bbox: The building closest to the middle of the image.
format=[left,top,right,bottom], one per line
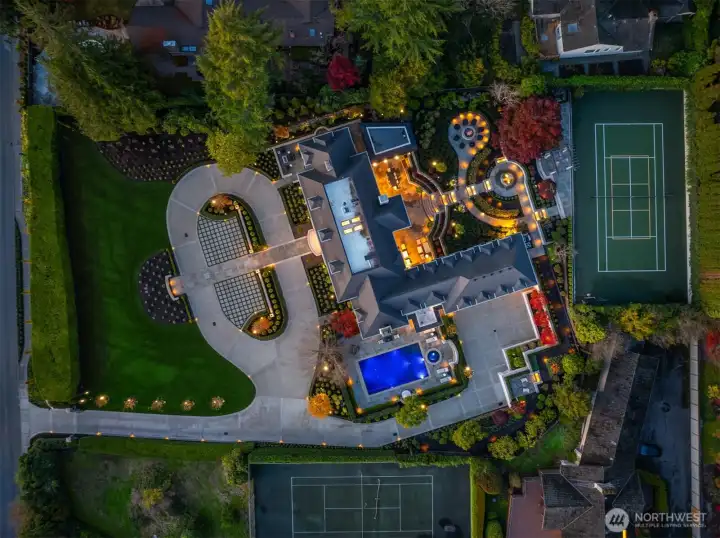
[297,122,539,340]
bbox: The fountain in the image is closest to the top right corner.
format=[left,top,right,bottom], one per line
[497,170,515,188]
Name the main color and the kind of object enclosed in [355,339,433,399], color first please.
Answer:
blue swimming pool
